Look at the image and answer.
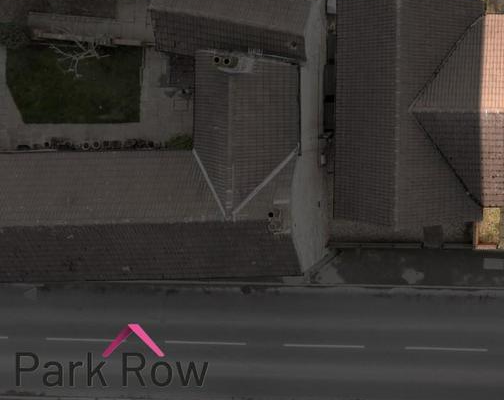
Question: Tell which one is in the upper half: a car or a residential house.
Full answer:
What appears in the upper half is a residential house.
